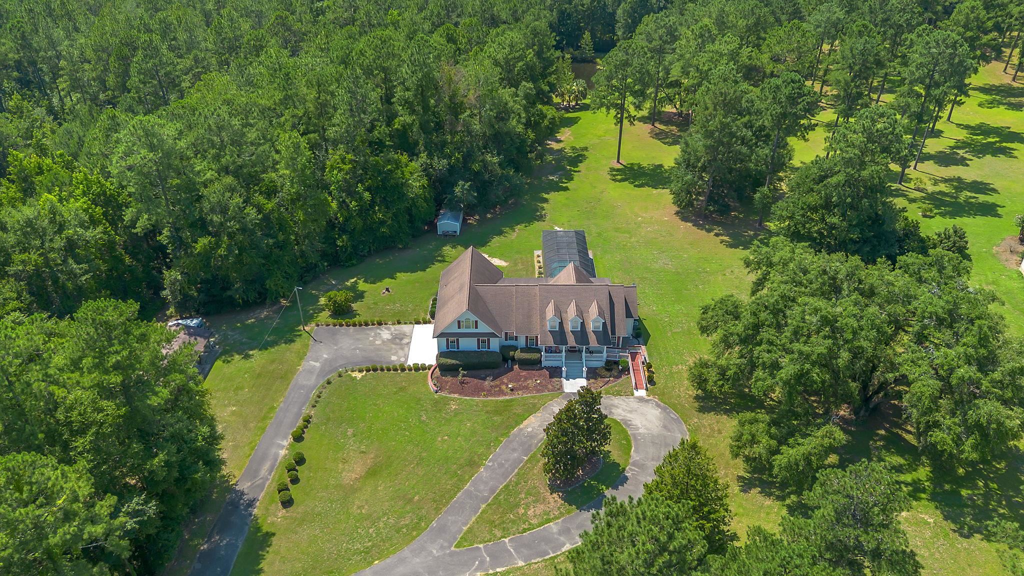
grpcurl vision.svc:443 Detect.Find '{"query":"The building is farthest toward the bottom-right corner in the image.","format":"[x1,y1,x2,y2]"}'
[432,246,639,378]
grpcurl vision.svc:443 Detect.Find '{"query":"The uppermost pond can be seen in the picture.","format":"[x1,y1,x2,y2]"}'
[557,51,634,96]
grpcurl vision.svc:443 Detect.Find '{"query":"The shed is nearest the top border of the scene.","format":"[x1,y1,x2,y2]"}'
[436,206,463,235]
